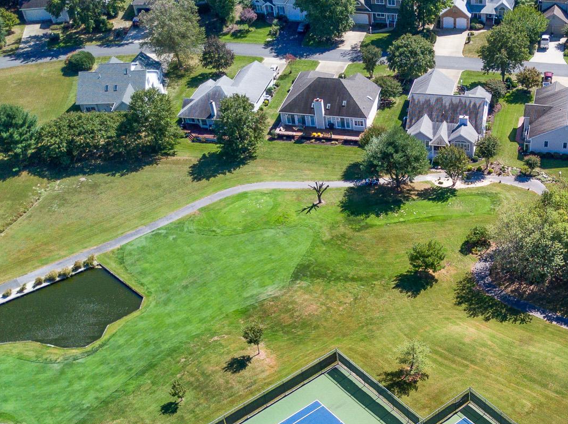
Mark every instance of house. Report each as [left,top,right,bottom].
[274,69,380,143]
[537,0,568,36]
[77,43,180,128]
[175,56,280,143]
[402,65,493,160]
[344,0,403,28]
[252,0,300,20]
[19,0,66,24]
[438,0,514,30]
[513,76,568,157]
